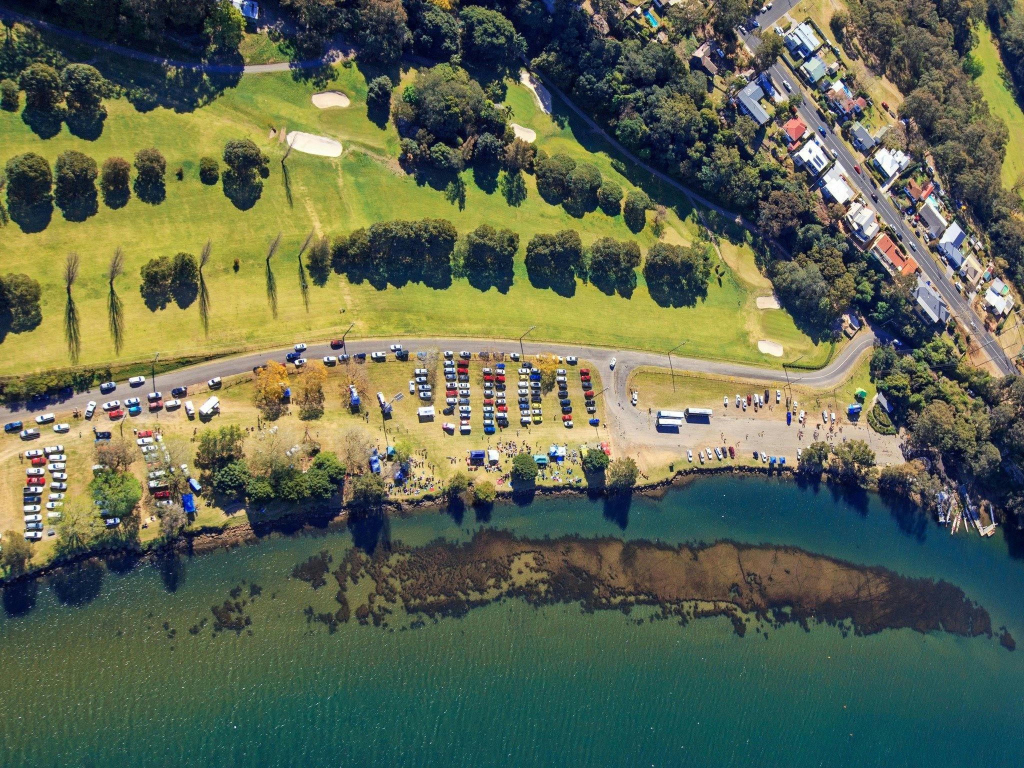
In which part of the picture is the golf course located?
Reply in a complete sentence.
The golf course sits in the top section of the image.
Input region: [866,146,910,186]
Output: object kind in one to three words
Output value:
house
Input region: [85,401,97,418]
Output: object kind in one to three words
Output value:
vehicle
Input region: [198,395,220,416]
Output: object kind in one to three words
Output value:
camper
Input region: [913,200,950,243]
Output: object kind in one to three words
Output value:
house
